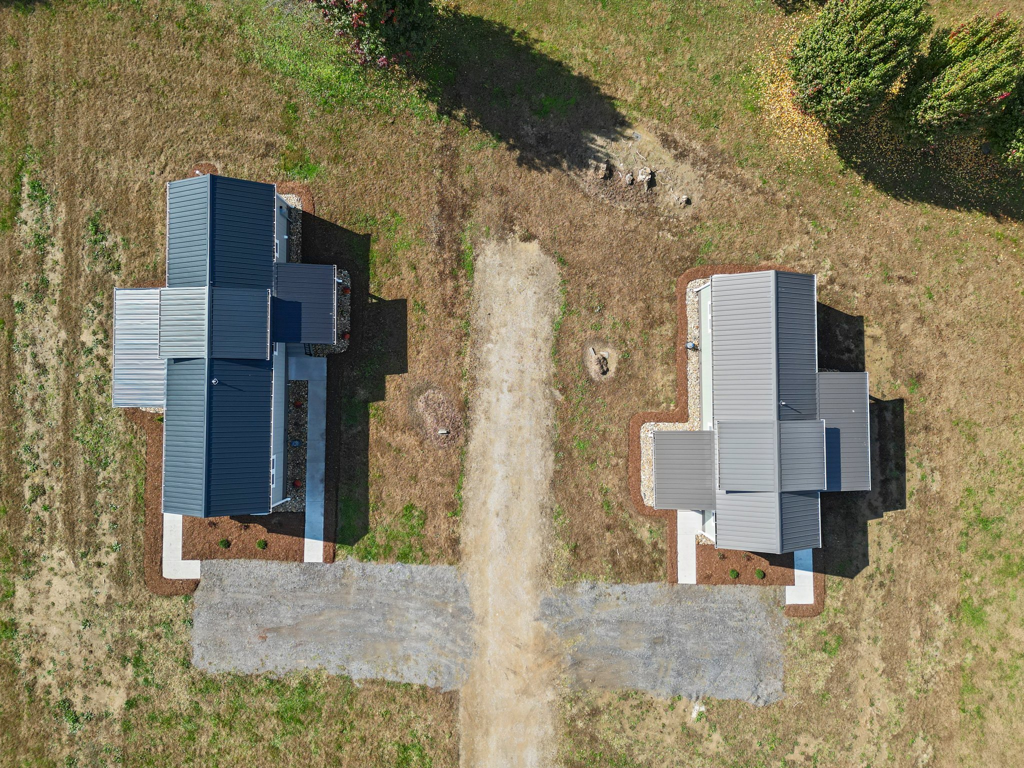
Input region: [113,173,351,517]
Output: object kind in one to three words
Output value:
house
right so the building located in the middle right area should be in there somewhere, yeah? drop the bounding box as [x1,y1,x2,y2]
[639,270,870,554]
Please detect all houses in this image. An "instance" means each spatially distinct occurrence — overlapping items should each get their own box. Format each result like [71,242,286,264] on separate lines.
[113,173,351,517]
[639,270,870,554]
